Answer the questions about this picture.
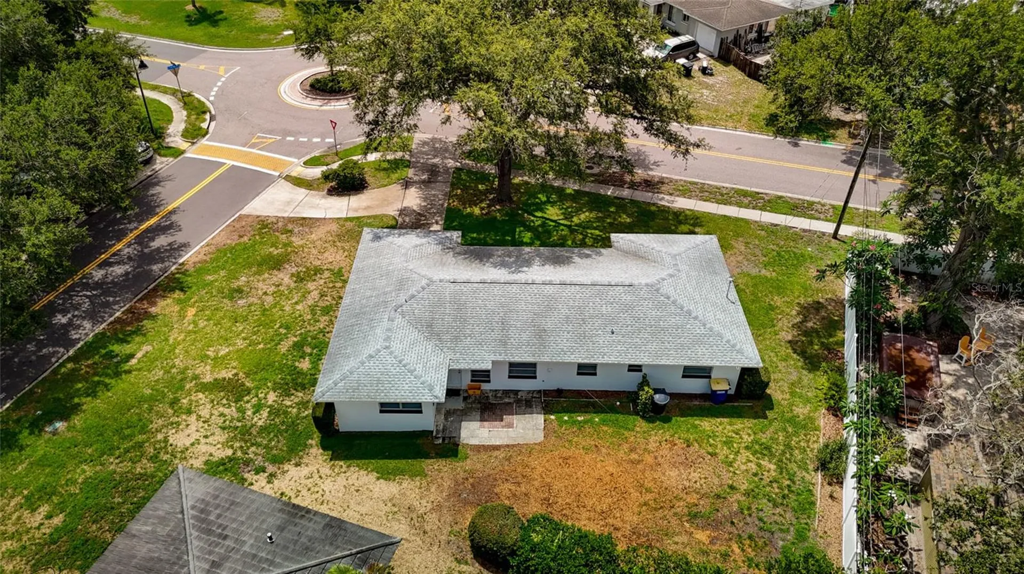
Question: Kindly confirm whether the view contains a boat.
No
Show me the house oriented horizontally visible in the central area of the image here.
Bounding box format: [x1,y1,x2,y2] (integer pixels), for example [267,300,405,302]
[312,228,763,431]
